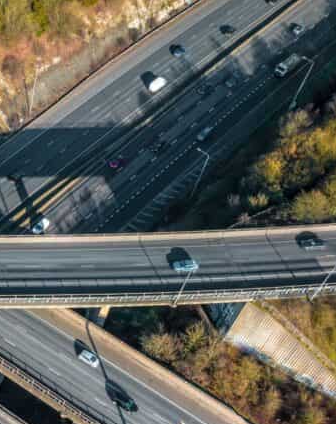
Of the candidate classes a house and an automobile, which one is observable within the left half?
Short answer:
automobile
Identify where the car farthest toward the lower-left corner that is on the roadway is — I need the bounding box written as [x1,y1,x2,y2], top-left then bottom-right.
[76,347,101,367]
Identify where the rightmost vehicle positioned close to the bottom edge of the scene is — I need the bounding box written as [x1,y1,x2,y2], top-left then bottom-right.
[112,390,140,412]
